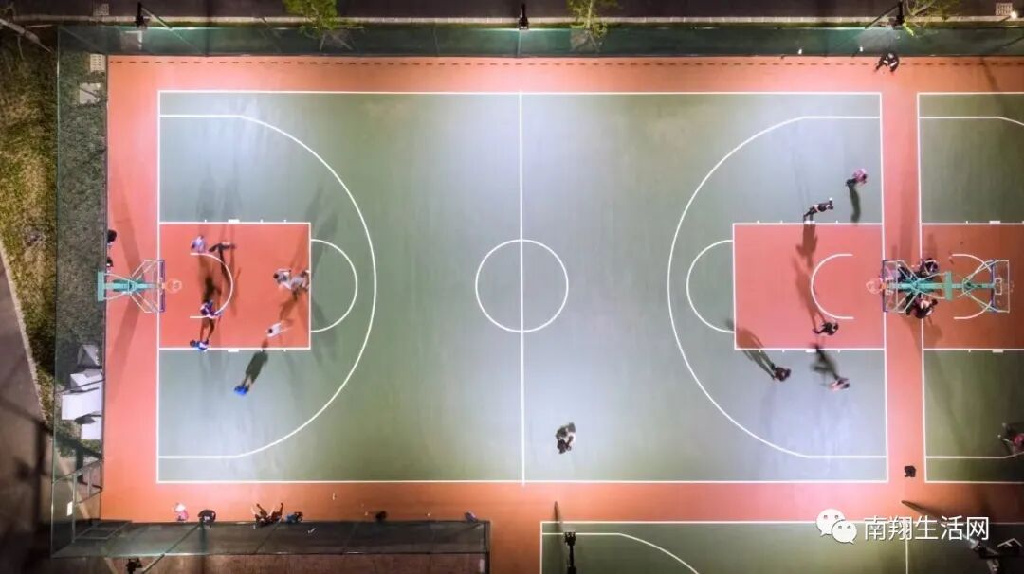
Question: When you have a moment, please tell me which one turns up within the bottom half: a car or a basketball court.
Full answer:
The feature located within the bottom half is a basketball court.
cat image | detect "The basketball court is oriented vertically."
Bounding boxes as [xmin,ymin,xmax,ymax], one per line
[919,93,1024,481]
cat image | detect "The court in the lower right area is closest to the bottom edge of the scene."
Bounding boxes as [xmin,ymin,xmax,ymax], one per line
[541,518,1024,574]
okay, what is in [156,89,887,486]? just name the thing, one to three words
basketball court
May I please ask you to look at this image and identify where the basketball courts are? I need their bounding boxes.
[156,89,887,486]
[919,93,1024,481]
[541,518,1024,574]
